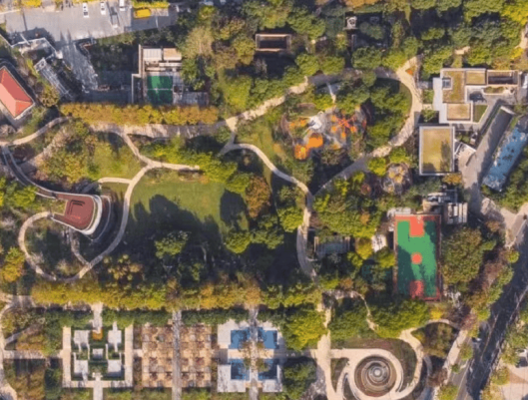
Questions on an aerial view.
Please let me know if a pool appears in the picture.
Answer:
Yes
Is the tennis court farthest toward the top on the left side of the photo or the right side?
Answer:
left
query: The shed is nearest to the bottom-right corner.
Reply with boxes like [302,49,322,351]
[445,203,468,224]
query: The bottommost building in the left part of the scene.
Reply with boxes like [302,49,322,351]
[51,192,110,240]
